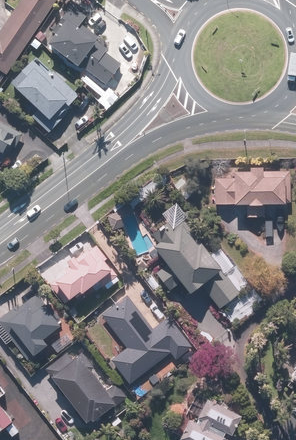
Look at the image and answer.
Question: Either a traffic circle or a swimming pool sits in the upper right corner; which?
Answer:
traffic circle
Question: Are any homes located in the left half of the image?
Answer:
Yes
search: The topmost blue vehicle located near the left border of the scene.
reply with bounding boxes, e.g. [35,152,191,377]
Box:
[11,202,26,215]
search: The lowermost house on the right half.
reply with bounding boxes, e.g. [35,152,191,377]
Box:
[180,400,242,440]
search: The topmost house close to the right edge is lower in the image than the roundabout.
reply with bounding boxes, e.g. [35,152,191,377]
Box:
[214,168,292,218]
